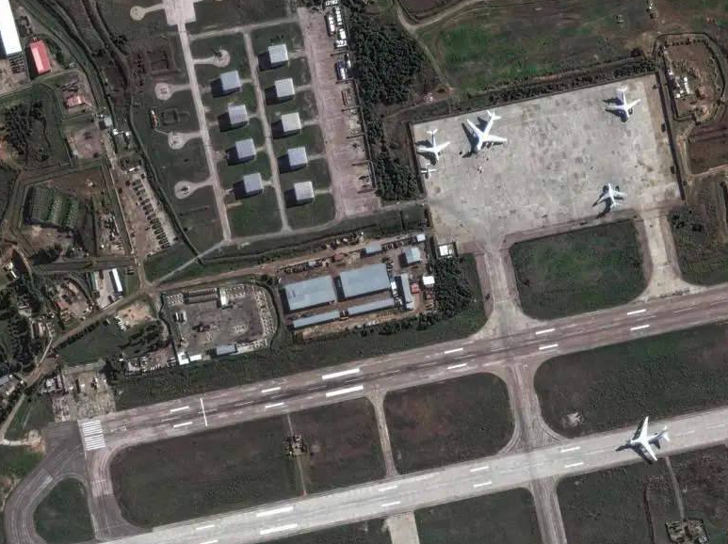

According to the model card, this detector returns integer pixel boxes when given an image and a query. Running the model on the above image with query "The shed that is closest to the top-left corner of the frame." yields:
[0,0,22,57]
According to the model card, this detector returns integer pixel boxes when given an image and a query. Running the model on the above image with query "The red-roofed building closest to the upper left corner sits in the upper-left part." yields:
[29,40,52,74]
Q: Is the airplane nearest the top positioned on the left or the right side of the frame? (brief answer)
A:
right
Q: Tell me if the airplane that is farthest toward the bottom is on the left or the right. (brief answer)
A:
right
